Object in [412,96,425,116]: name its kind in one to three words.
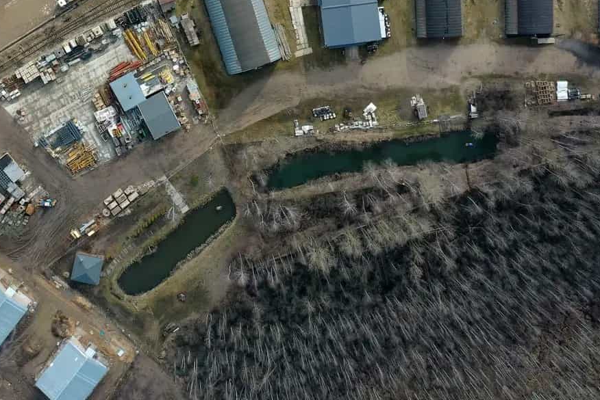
vehicle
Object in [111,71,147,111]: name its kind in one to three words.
building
